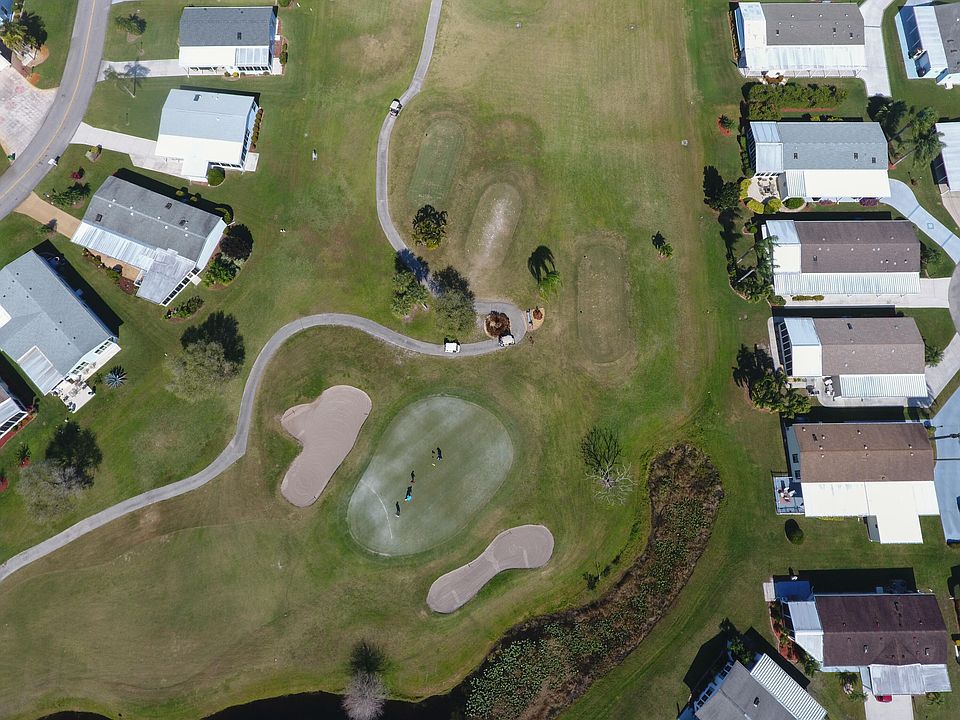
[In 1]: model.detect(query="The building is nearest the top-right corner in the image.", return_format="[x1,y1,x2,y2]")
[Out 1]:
[900,3,960,94]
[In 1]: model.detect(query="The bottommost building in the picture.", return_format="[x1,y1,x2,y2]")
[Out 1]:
[671,649,828,720]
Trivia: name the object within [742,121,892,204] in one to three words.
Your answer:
house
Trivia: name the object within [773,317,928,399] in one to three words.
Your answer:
house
